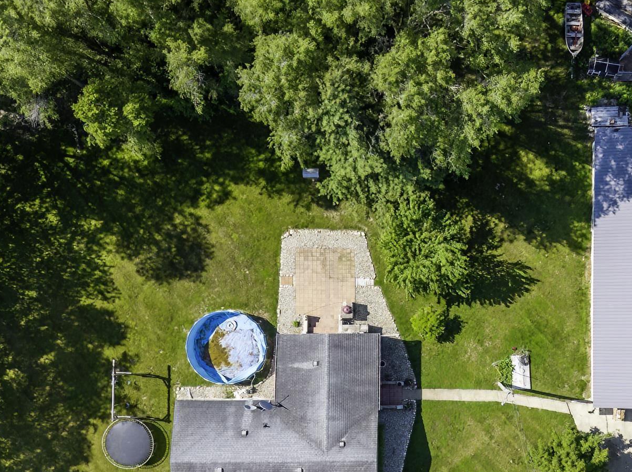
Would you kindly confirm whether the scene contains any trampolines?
Yes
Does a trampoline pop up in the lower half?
Yes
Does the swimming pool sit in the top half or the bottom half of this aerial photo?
bottom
